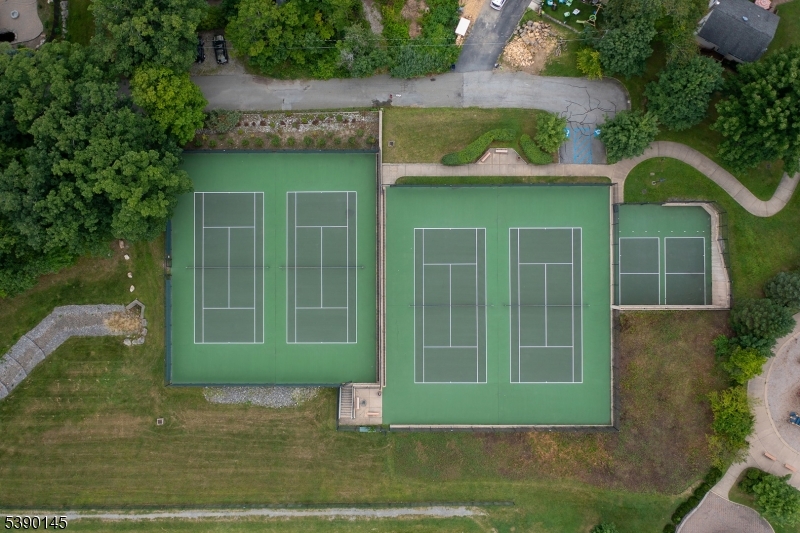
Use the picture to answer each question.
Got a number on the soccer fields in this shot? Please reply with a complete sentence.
Not a single soccer field can be seen.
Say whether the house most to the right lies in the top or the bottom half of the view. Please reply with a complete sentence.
You can find the house most to the right in the top half.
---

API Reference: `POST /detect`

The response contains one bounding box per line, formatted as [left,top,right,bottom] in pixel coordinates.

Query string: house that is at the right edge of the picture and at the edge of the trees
[687,0,773,69]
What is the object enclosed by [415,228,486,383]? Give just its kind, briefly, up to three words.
tennis court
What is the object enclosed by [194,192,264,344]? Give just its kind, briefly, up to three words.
tennis court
